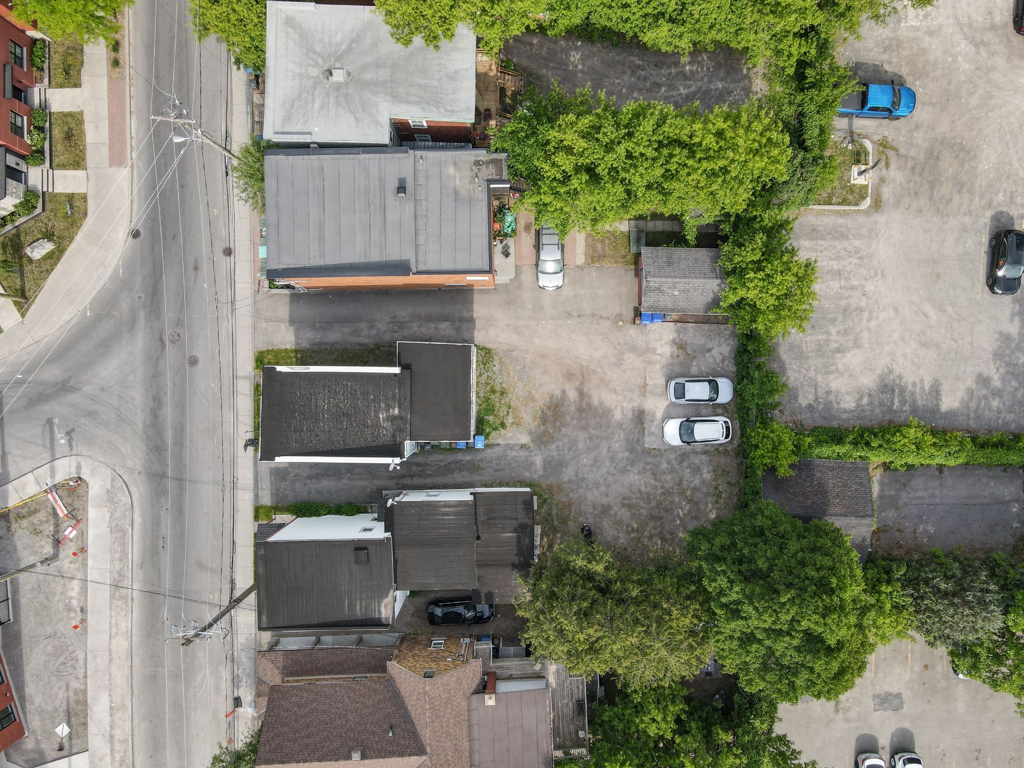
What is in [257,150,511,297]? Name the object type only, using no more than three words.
building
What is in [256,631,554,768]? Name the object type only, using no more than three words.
house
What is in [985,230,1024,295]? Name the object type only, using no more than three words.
car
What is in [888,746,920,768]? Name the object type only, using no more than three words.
car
